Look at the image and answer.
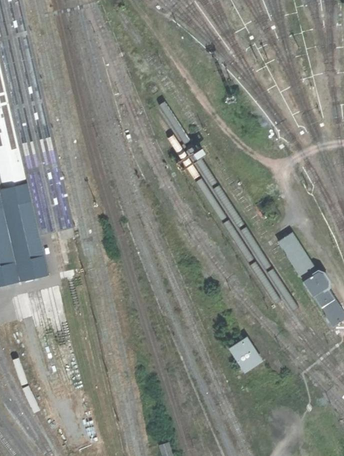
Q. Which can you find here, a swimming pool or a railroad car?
railroad car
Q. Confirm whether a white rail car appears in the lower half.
Yes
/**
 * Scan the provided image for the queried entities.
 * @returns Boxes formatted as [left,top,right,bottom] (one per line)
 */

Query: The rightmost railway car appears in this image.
[268,268,298,312]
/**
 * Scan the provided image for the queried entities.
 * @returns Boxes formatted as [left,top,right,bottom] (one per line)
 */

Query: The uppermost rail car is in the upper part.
[160,100,190,144]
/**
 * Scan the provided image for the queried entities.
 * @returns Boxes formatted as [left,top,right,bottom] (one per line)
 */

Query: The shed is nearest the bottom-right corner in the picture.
[230,337,264,374]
